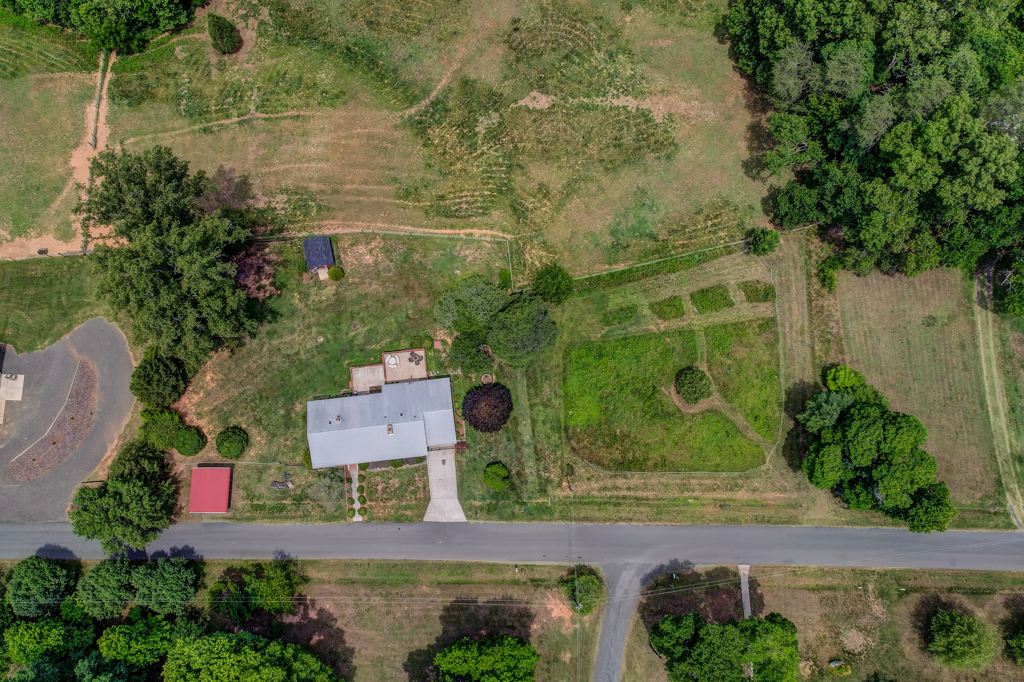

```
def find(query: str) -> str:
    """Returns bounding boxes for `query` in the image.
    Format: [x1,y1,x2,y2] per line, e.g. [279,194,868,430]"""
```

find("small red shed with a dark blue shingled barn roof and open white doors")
[302,235,337,279]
